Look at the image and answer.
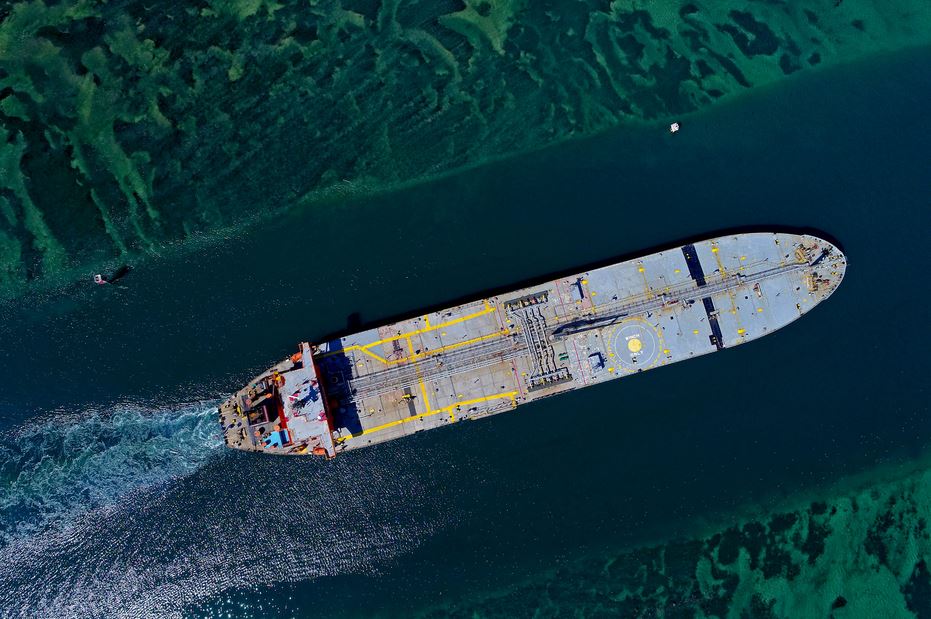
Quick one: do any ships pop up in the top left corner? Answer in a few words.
No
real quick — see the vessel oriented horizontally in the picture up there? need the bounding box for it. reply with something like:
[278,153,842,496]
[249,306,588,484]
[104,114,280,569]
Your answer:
[217,235,848,458]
